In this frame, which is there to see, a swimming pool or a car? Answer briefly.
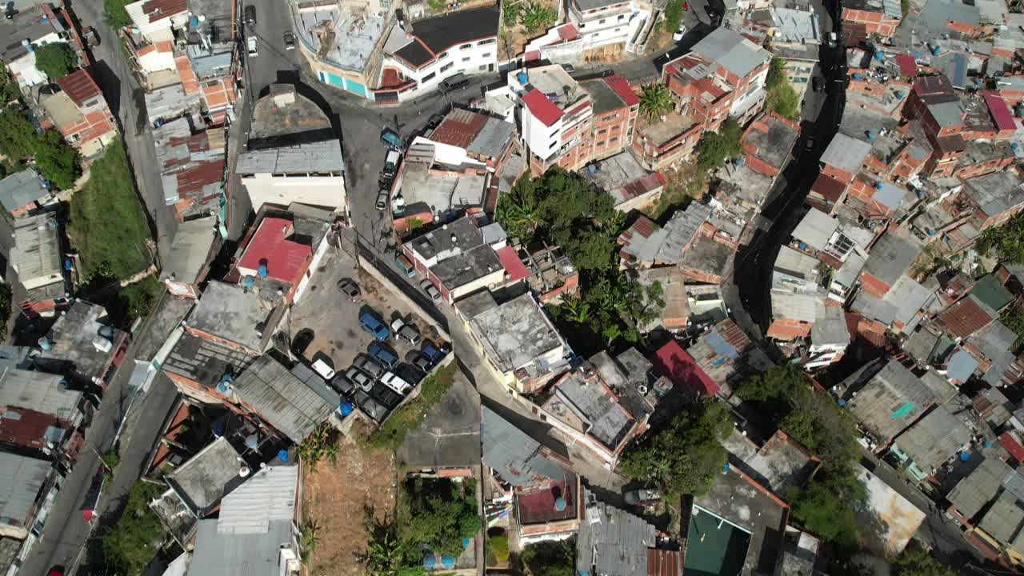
car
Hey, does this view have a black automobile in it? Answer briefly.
Yes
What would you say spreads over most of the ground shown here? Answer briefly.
buildings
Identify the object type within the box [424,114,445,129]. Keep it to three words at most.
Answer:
car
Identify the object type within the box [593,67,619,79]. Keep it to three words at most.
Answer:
vehicle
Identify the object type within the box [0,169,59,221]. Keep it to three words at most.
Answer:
house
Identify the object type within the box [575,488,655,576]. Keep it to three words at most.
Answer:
house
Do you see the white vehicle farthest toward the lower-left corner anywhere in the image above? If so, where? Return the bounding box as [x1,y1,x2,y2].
[310,355,337,380]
